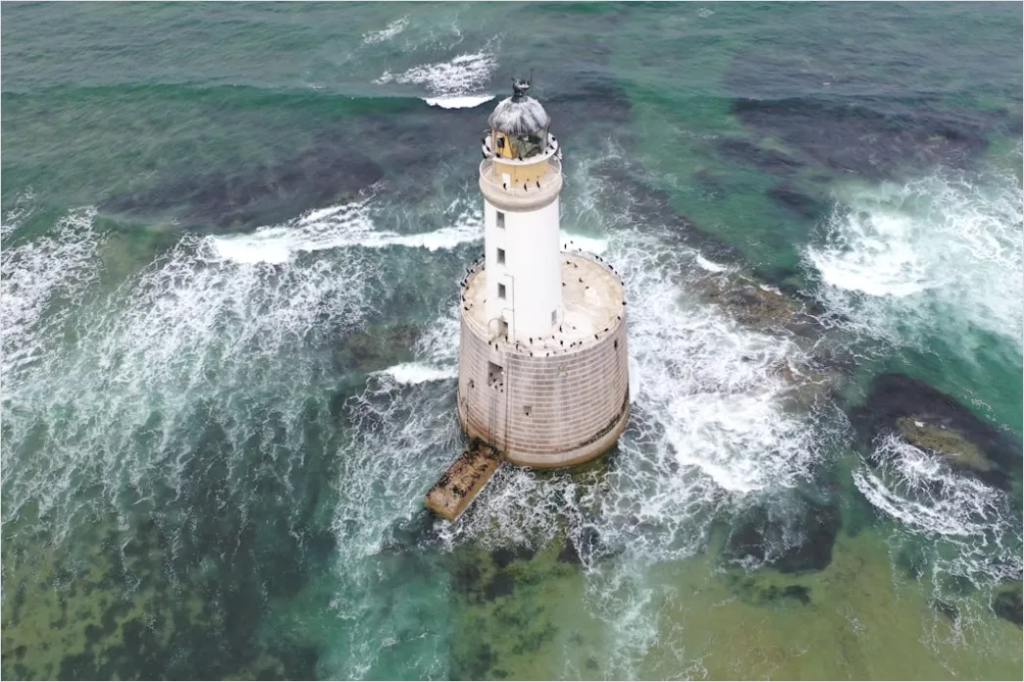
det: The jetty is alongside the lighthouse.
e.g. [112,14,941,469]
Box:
[426,437,507,534]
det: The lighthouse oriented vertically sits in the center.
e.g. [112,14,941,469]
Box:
[456,68,631,481]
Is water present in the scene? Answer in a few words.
Yes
